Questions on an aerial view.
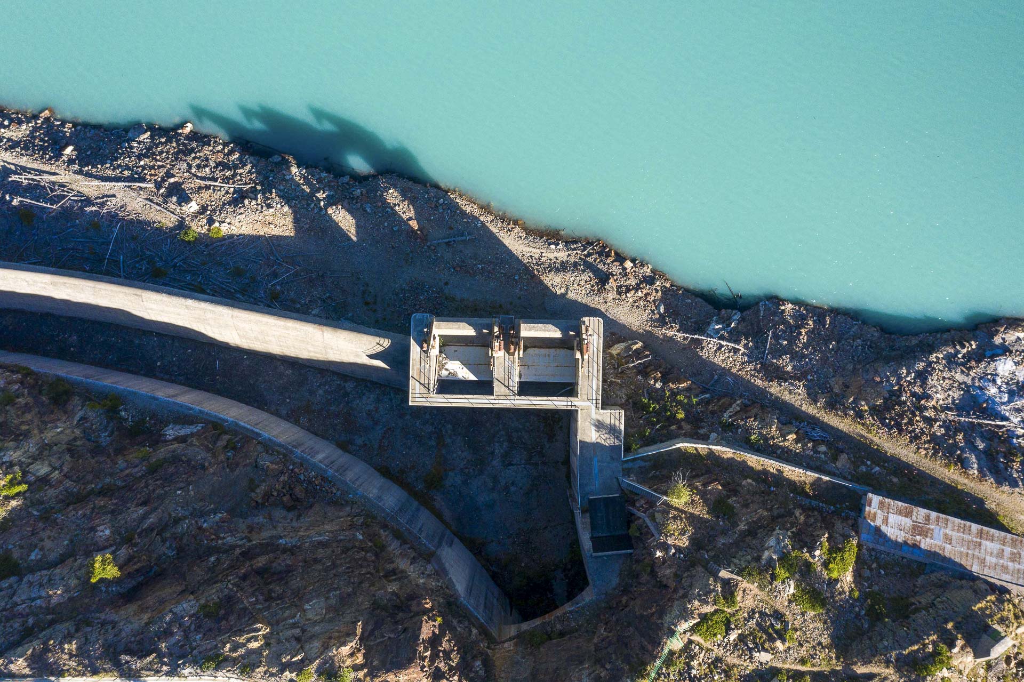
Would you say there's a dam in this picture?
Yes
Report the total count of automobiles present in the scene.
none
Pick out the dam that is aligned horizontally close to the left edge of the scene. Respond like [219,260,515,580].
[0,259,409,391]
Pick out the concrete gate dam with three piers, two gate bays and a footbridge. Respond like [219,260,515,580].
[408,314,604,410]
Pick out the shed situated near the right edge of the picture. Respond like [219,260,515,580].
[856,490,1024,588]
